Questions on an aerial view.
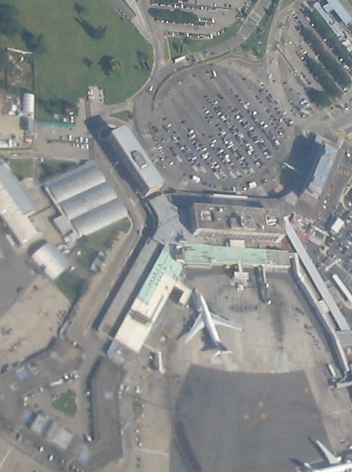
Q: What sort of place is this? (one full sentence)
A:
The area seen from above is an airport.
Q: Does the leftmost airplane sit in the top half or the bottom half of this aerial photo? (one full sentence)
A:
The leftmost airplane is in the bottom half of the image.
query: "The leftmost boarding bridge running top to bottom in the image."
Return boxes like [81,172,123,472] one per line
[258,265,271,305]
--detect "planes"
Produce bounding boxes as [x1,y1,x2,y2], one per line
[188,289,241,353]
[300,443,352,472]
